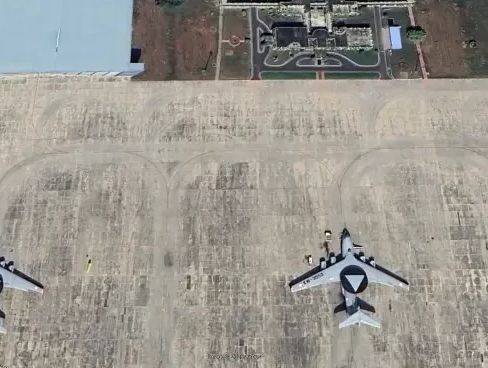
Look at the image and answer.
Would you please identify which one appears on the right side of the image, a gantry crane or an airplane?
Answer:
airplane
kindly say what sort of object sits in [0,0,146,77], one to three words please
hangar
